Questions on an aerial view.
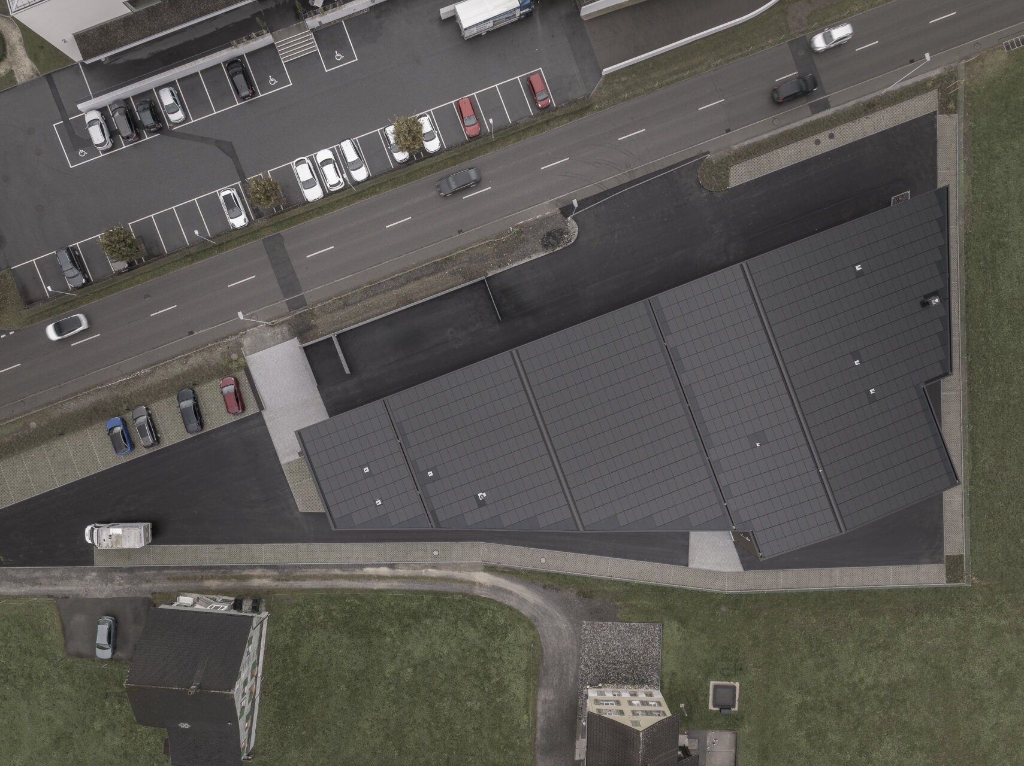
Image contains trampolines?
Yes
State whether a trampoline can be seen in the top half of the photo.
No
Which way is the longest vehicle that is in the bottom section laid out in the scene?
from left to right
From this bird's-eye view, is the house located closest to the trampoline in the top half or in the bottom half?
bottom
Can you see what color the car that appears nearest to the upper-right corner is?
white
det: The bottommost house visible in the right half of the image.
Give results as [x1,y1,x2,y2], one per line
[586,689,699,766]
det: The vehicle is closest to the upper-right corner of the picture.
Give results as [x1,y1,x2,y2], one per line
[810,23,853,53]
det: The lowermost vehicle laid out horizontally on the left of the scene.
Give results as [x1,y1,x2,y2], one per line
[89,523,153,548]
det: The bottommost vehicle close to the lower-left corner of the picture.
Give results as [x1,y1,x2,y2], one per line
[95,617,119,657]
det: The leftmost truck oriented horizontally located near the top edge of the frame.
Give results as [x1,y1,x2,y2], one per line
[456,0,538,41]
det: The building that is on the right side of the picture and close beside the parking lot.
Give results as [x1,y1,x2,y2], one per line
[296,188,958,560]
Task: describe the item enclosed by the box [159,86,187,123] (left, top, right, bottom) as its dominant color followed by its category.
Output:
white car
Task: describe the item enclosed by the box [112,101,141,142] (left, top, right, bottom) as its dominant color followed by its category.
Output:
gray car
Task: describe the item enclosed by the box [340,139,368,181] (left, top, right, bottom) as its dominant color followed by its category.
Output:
white car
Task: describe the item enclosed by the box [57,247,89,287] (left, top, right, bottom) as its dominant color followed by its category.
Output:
gray car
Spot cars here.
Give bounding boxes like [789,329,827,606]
[456,97,481,137]
[110,255,133,273]
[112,101,141,142]
[295,157,324,200]
[229,60,256,100]
[138,100,163,134]
[159,86,187,123]
[384,125,410,163]
[50,314,90,340]
[85,112,114,150]
[133,407,161,447]
[178,390,204,432]
[810,23,853,53]
[340,139,368,181]
[95,617,119,657]
[415,113,441,152]
[221,189,248,227]
[57,247,89,287]
[318,151,344,190]
[107,418,134,455]
[221,377,247,414]
[528,73,550,109]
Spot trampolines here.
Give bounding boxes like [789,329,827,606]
[709,682,739,715]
